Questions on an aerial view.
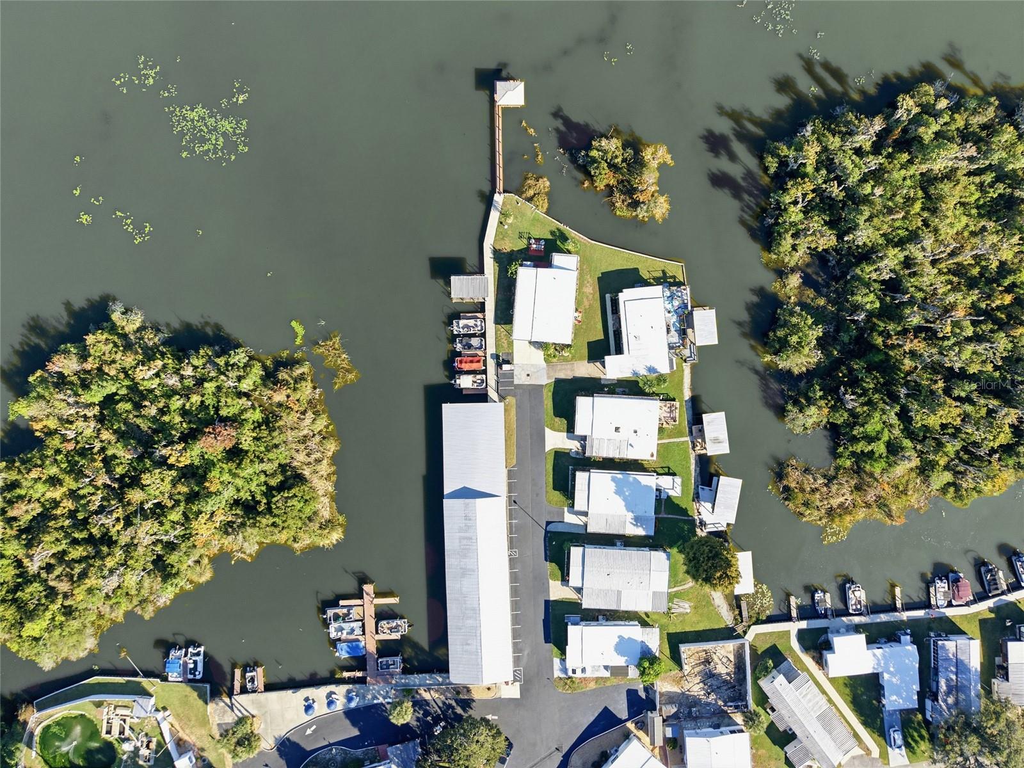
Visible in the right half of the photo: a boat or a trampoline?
boat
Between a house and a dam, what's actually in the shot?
house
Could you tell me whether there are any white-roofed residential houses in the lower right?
Yes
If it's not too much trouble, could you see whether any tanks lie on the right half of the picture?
No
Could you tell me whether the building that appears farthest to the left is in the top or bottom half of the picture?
bottom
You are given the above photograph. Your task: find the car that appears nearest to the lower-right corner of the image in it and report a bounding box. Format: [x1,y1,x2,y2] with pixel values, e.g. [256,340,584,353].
[890,727,905,752]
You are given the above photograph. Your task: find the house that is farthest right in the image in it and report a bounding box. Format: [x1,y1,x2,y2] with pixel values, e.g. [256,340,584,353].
[983,620,1024,706]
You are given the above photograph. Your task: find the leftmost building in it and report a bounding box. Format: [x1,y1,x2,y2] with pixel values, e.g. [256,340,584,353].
[133,692,158,716]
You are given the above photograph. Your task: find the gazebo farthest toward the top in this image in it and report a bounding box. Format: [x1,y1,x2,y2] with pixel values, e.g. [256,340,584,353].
[495,76,524,108]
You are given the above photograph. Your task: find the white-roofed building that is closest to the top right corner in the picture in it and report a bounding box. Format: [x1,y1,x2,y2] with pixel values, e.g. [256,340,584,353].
[687,307,718,357]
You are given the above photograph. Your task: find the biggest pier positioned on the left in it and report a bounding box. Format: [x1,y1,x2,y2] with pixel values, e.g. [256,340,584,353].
[361,583,379,683]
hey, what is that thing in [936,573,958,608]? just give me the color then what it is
white boat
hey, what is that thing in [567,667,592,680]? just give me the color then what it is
white vehicle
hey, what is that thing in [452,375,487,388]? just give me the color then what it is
white boat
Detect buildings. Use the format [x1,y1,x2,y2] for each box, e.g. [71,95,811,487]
[174,744,202,768]
[687,307,718,357]
[598,730,664,768]
[513,254,578,344]
[753,658,859,768]
[925,632,980,726]
[451,276,488,302]
[442,402,513,684]
[574,470,683,536]
[699,475,742,531]
[664,722,678,737]
[677,635,754,712]
[983,620,1024,706]
[730,548,754,595]
[604,286,675,378]
[564,614,659,677]
[569,544,669,612]
[693,412,730,456]
[133,692,158,716]
[646,707,662,746]
[822,625,920,710]
[575,394,659,459]
[683,722,750,768]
